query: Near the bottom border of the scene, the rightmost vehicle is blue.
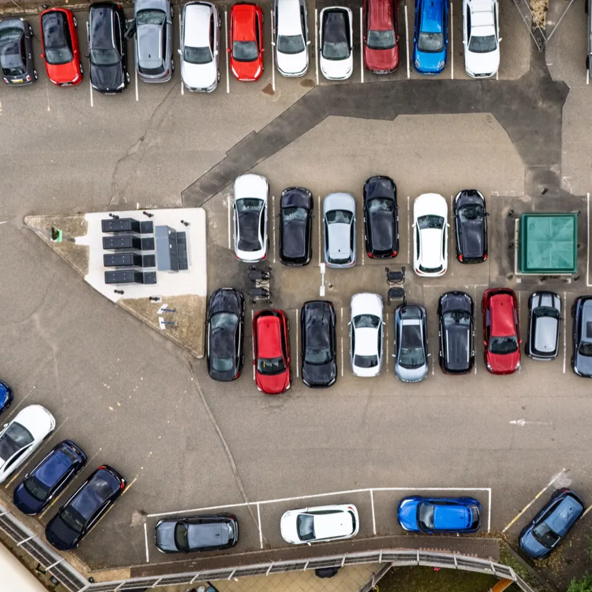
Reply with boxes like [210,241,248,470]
[517,483,588,563]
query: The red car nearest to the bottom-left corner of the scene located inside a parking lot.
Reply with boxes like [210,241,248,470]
[249,309,292,394]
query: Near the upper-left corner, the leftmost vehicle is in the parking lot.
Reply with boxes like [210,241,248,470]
[0,21,37,88]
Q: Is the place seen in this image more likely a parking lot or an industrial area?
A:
parking lot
